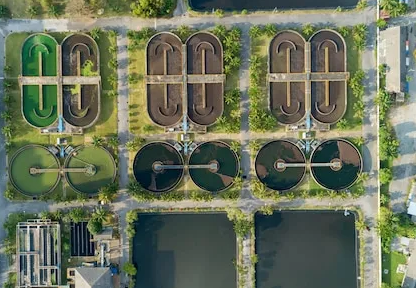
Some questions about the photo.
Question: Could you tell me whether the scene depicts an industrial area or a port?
industrial area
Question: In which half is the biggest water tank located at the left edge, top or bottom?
top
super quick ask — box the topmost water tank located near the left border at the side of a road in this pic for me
[20,32,102,135]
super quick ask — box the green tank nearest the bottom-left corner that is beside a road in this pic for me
[9,145,61,197]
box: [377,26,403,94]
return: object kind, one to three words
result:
building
